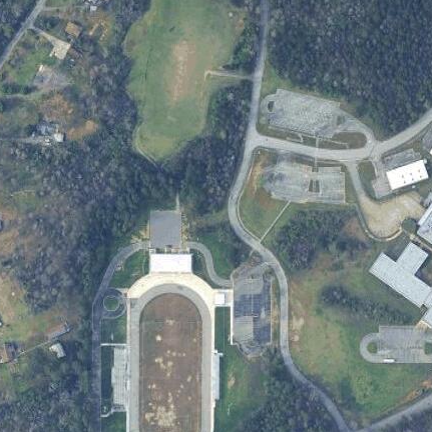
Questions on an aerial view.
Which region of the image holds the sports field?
bottom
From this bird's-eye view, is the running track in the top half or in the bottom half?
bottom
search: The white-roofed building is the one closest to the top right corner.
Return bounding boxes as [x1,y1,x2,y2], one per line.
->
[385,160,429,190]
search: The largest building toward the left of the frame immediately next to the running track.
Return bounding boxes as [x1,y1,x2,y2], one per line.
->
[150,254,192,274]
